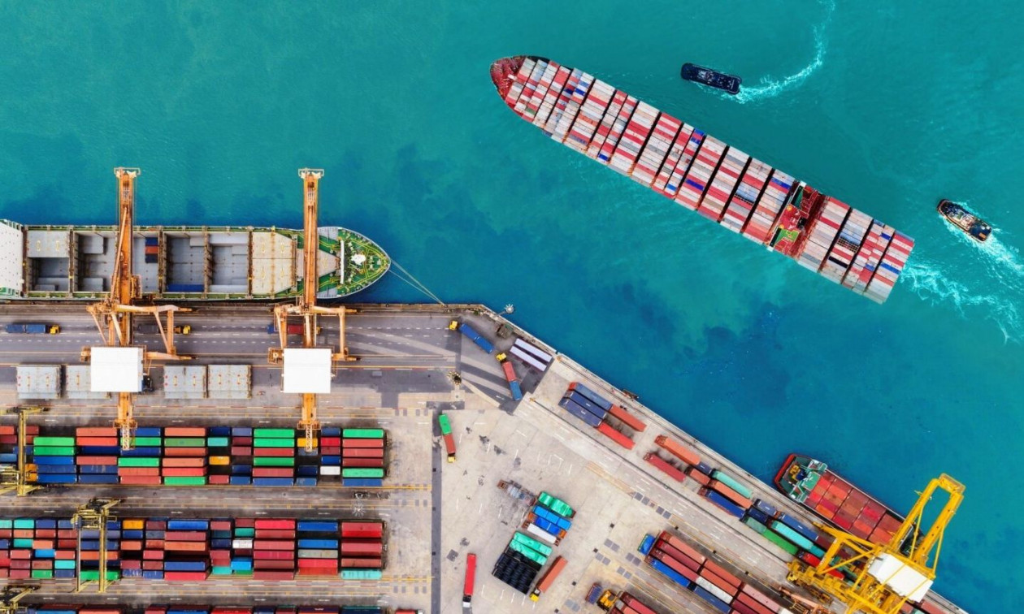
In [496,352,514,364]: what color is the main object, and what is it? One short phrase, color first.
yellow vehicle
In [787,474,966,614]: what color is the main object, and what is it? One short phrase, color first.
yellow container crane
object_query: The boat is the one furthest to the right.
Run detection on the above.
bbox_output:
[935,199,995,246]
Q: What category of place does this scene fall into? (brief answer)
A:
port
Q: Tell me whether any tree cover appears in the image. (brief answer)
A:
No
